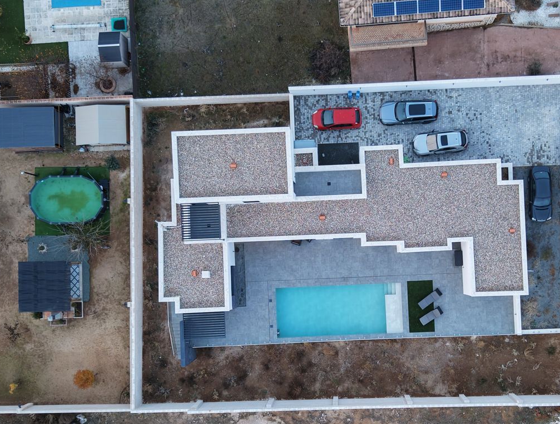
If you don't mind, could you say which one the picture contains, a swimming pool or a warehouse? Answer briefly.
swimming pool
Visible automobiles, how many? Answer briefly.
four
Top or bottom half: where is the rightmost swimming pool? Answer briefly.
bottom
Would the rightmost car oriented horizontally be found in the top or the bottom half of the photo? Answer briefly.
top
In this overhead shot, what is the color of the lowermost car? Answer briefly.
blue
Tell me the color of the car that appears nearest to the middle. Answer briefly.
red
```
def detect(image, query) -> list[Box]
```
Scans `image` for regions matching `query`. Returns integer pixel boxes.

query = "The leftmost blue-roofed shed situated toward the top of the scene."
[0,104,69,152]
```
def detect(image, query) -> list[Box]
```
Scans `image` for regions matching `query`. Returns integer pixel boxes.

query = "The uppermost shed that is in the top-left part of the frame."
[98,32,128,68]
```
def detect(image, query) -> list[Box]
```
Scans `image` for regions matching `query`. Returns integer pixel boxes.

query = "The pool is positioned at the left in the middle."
[29,174,107,225]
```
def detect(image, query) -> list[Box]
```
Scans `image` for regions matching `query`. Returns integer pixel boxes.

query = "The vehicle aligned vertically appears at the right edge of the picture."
[528,166,556,222]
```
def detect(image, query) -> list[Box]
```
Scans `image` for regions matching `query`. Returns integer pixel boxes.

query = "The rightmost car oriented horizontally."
[412,129,469,157]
